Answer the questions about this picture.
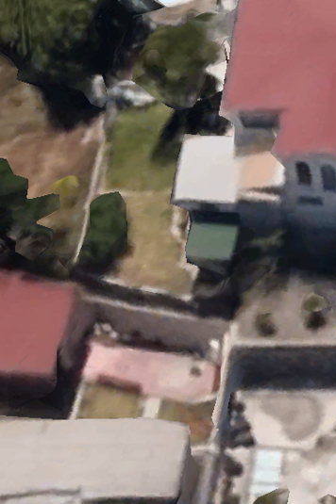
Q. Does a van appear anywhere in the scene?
No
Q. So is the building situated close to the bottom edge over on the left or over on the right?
left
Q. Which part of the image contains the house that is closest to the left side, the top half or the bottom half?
bottom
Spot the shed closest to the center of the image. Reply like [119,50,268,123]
[187,224,242,274]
